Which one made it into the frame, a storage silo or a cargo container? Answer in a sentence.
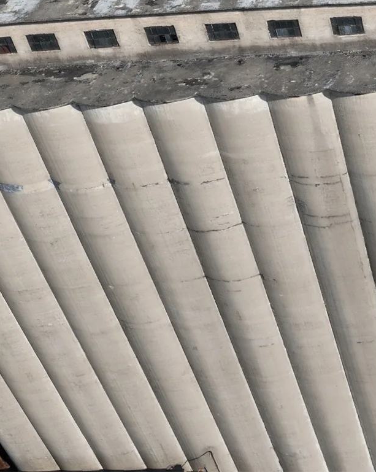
This aerial view contains a storage silo.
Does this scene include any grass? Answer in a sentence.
No, no grass is visible.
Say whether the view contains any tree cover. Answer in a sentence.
No, the picture contains no tree cover.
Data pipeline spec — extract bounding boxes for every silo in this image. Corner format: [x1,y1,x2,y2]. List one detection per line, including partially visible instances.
[10,107,231,472]
[70,105,276,472]
[132,101,322,472]
[324,96,376,305]
[0,205,141,471]
[195,99,368,472]
[0,378,61,472]
[0,109,186,472]
[259,97,376,471]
